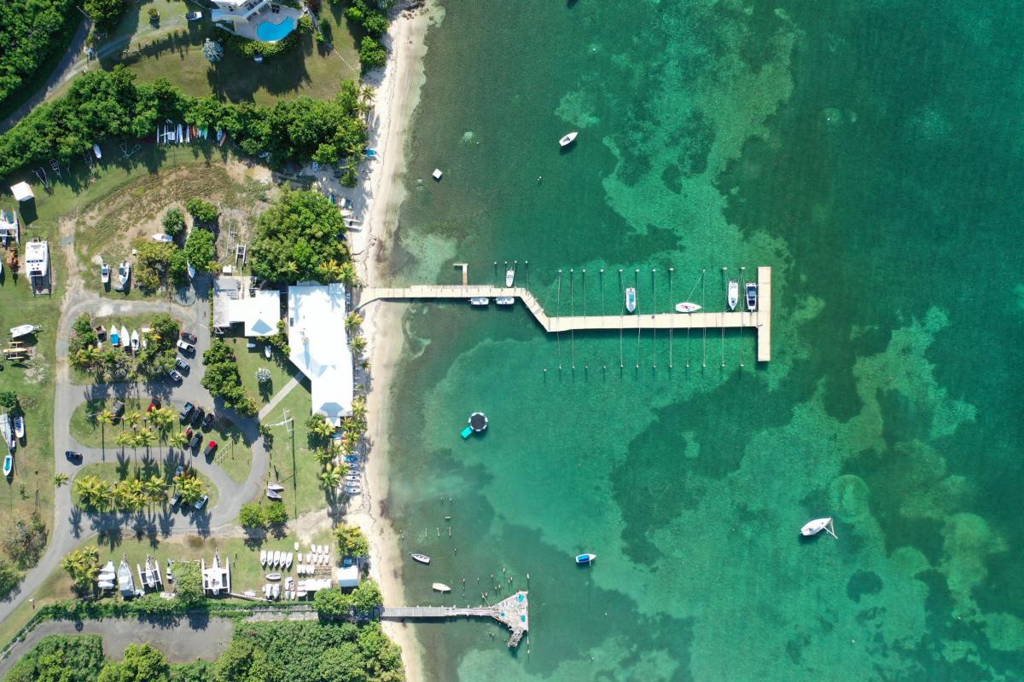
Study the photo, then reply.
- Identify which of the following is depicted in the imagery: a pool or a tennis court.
pool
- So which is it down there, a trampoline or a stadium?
trampoline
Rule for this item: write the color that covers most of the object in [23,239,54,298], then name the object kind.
white boat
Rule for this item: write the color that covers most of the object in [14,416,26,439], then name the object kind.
white boat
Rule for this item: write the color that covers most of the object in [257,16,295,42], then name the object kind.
blue swimming pool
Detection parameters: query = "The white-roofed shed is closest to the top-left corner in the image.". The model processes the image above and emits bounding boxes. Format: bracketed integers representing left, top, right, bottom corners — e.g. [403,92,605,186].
[11,182,40,202]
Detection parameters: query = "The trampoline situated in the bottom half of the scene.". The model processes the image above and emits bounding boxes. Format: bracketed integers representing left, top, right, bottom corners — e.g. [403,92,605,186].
[461,412,488,437]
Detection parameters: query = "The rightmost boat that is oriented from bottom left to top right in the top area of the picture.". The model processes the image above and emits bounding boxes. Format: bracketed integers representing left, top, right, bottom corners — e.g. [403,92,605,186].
[560,133,577,146]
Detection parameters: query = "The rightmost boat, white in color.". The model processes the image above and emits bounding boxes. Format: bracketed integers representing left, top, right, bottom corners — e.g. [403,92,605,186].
[799,519,832,538]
